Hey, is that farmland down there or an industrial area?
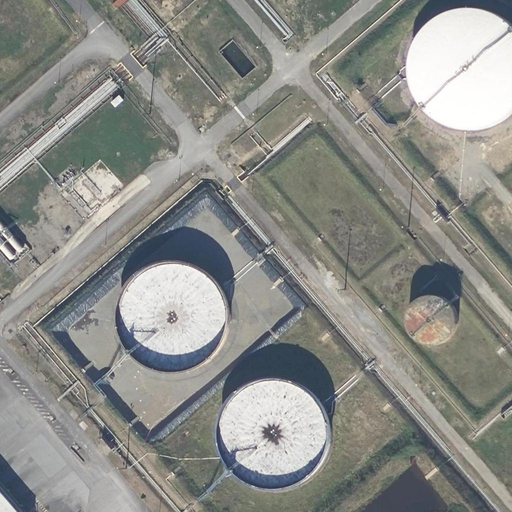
industrial area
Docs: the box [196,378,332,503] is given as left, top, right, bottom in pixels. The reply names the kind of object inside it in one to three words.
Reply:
storage tank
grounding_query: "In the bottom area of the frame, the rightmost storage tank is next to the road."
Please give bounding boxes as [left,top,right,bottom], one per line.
[402,292,461,348]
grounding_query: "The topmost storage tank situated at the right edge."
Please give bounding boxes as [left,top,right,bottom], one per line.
[401,8,512,133]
